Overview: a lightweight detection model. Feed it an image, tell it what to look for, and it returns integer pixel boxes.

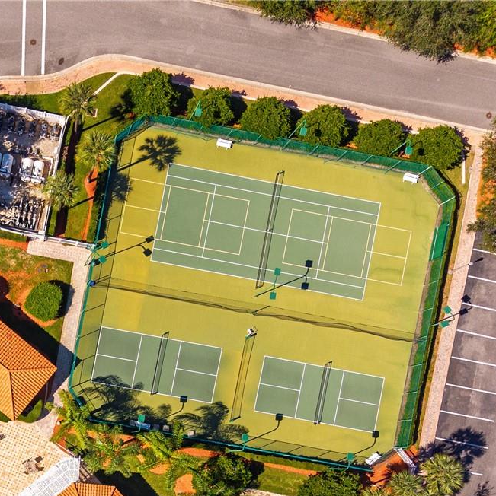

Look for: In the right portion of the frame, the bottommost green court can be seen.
[255,356,385,433]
